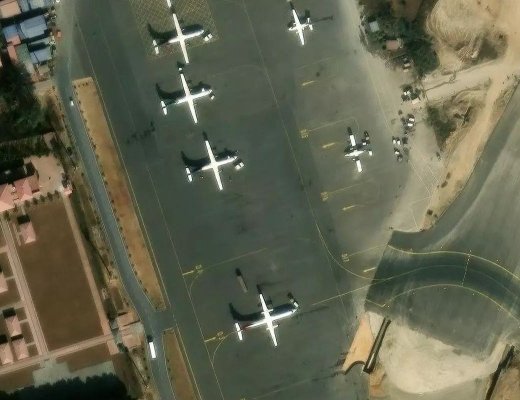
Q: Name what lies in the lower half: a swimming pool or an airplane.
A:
airplane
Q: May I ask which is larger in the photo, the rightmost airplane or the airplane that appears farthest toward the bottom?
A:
the airplane that appears farthest toward the bottom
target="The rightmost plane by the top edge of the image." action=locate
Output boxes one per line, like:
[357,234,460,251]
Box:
[288,9,314,46]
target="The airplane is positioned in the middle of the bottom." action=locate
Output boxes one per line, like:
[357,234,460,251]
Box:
[236,295,296,345]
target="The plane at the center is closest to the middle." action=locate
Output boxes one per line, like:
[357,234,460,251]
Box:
[186,141,236,190]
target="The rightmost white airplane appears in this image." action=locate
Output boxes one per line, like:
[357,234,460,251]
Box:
[344,134,372,172]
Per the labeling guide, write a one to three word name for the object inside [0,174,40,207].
house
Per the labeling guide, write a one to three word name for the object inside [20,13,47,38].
house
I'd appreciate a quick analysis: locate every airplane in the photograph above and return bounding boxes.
[161,74,211,123]
[288,9,314,46]
[344,134,372,172]
[153,14,204,64]
[236,295,296,345]
[186,141,236,190]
